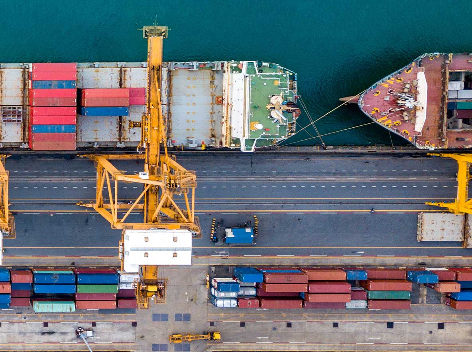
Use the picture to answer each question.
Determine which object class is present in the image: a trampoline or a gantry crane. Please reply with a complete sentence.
This aerial view contains a gantry crane.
